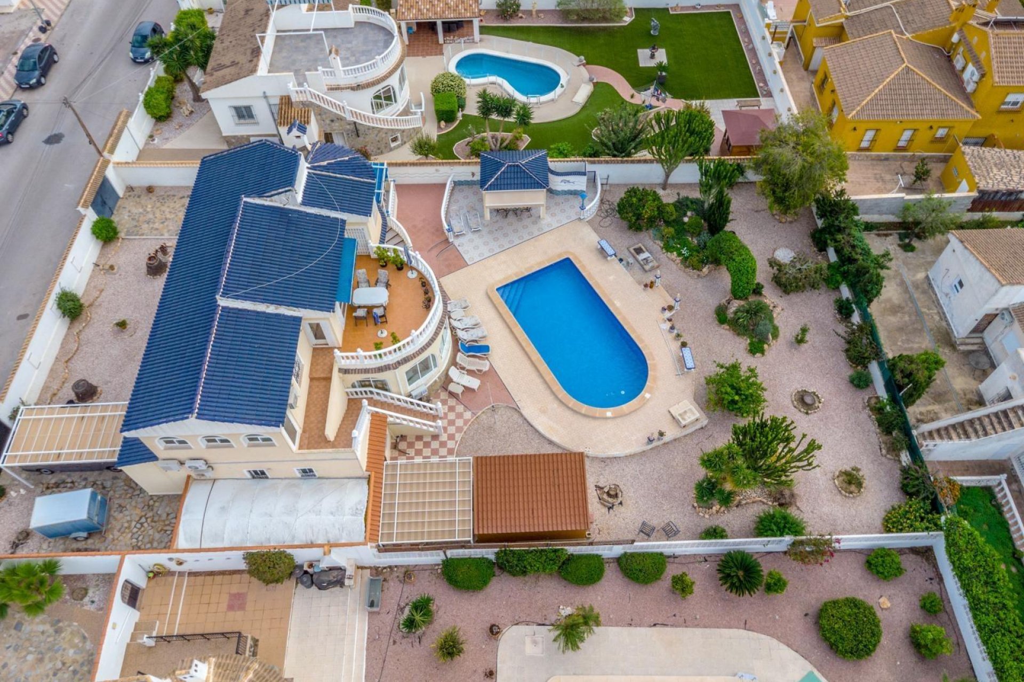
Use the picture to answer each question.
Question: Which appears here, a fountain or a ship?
fountain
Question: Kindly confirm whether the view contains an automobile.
Yes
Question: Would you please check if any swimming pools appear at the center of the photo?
Yes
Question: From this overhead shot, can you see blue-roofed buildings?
Yes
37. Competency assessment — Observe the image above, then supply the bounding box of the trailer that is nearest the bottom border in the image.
[26,489,116,540]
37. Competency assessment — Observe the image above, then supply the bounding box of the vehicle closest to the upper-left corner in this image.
[17,45,59,87]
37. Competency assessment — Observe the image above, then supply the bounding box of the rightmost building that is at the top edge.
[763,0,1024,164]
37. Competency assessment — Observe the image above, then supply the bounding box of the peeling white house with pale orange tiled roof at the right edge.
[926,229,1024,367]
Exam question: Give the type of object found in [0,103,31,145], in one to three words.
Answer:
car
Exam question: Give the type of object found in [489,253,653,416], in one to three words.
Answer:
swimming pool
